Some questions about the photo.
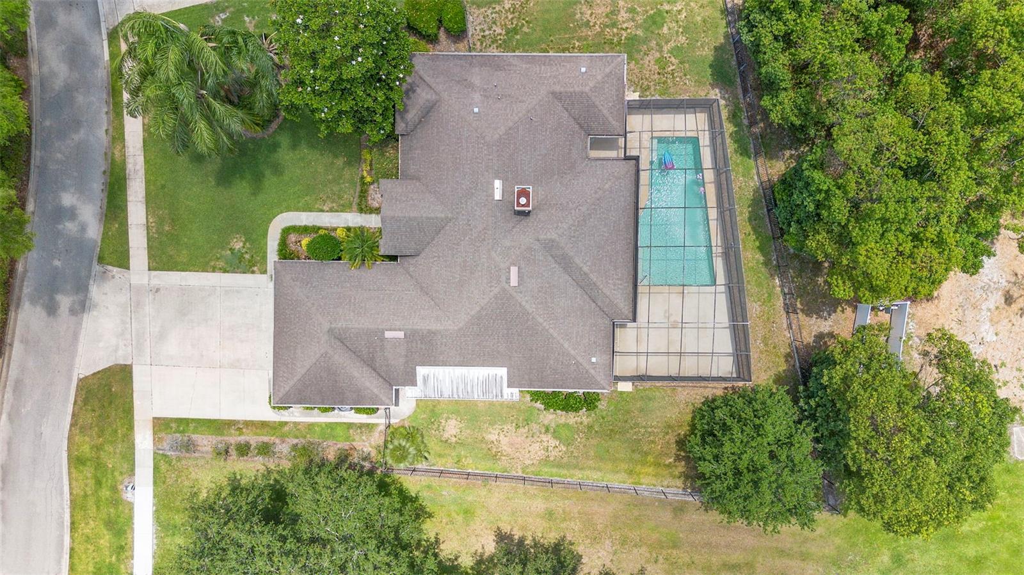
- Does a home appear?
Yes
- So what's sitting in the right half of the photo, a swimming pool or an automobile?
swimming pool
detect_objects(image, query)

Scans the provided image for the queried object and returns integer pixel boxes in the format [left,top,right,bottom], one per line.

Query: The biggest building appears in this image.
[272,52,636,408]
